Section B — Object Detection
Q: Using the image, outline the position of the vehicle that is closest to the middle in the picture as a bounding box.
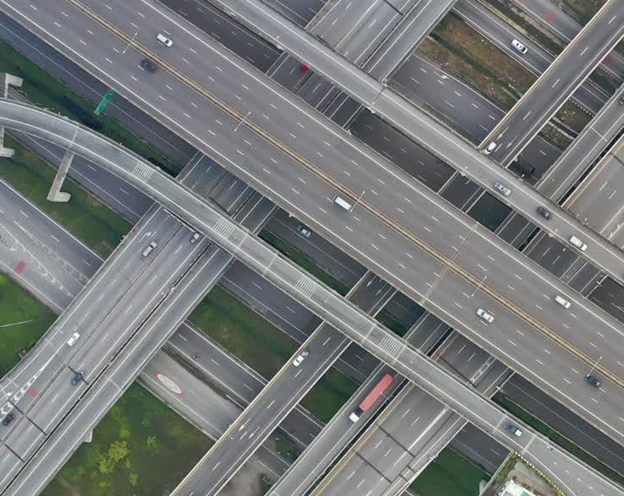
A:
[294,223,311,237]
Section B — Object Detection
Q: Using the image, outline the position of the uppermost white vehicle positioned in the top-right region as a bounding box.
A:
[511,39,526,52]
